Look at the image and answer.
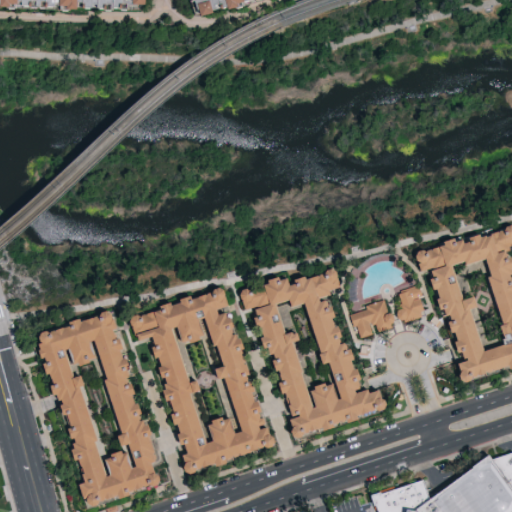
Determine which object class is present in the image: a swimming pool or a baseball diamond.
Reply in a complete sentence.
The one in the frame is a swimming pool.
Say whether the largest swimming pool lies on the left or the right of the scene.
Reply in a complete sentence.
You can find the largest swimming pool on the right side of the picture.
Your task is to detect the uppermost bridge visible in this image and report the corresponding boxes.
[0,0,370,247]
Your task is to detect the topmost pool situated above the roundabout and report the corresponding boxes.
[349,253,416,312]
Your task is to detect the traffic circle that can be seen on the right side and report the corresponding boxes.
[386,332,430,376]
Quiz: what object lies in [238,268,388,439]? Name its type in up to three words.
building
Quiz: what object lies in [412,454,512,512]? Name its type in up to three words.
building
